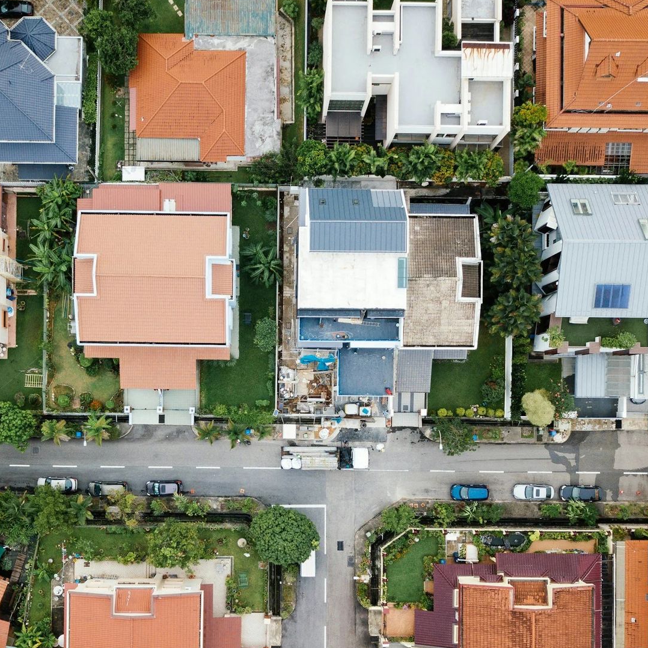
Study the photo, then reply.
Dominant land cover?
buildings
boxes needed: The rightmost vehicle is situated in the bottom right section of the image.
[559,483,601,503]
